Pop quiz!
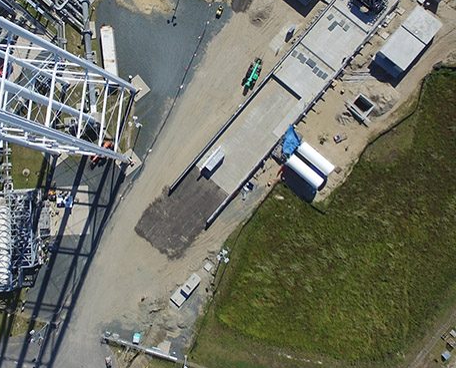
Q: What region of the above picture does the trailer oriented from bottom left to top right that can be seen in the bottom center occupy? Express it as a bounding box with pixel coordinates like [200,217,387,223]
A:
[166,270,202,310]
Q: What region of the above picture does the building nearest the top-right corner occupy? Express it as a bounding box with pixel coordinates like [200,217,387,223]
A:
[396,4,441,43]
